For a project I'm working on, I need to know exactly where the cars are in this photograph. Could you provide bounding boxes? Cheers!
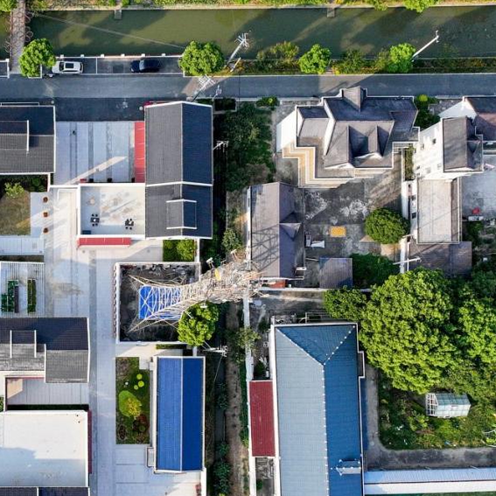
[130,58,160,74]
[51,61,83,75]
